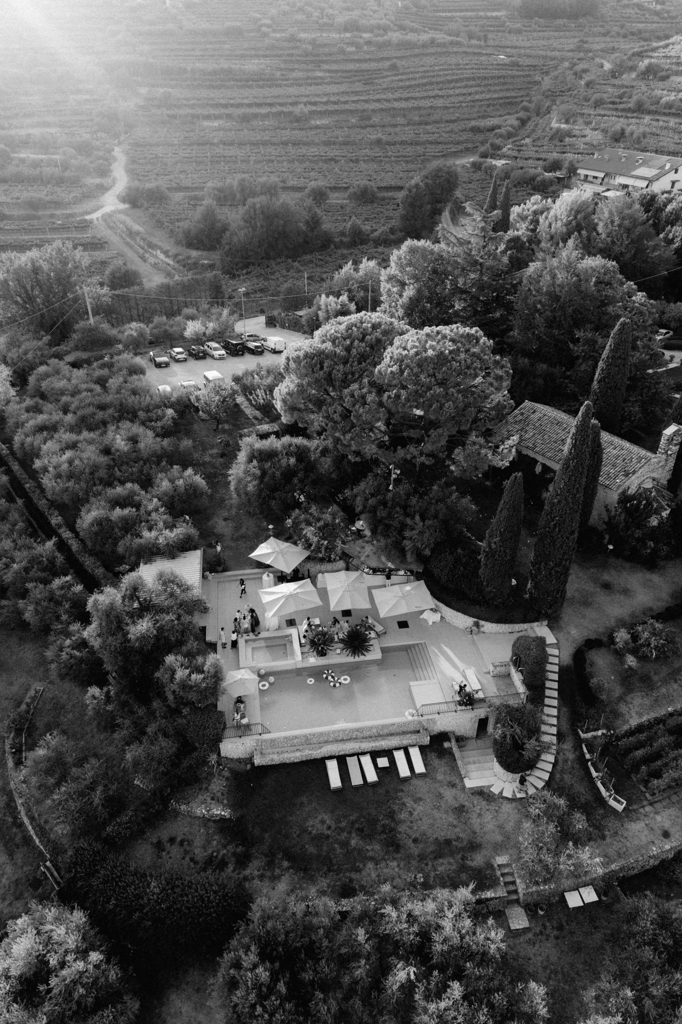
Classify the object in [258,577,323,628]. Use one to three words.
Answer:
umbrella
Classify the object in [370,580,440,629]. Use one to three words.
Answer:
umbrella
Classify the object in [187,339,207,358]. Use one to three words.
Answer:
car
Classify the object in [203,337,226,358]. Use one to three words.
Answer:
car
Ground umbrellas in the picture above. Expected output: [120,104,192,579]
[247,536,313,583]
[325,568,370,617]
[220,659,260,703]
[258,577,323,628]
[370,580,440,629]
